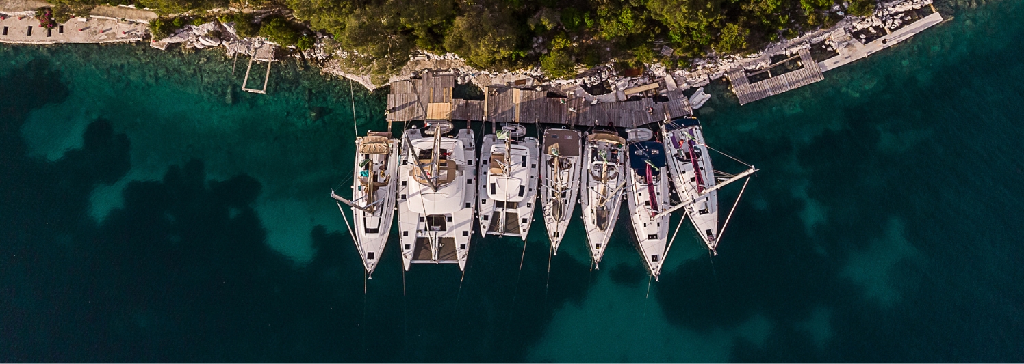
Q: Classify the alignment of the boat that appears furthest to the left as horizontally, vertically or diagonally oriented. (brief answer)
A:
vertically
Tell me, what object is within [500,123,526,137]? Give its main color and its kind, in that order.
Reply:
gray boat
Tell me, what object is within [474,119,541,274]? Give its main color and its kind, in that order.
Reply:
white boat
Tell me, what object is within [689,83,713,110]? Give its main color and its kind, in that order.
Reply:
gray boat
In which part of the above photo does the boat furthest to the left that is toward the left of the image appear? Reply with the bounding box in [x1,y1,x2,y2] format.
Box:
[331,81,405,300]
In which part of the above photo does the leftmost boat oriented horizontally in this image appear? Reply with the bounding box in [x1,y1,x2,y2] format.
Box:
[423,121,453,135]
